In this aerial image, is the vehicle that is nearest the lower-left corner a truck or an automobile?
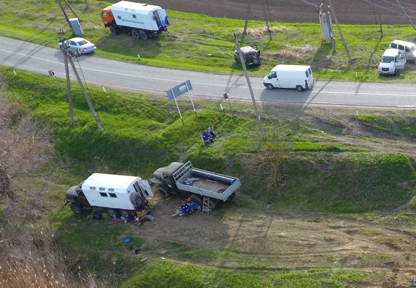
truck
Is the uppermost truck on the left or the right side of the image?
left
